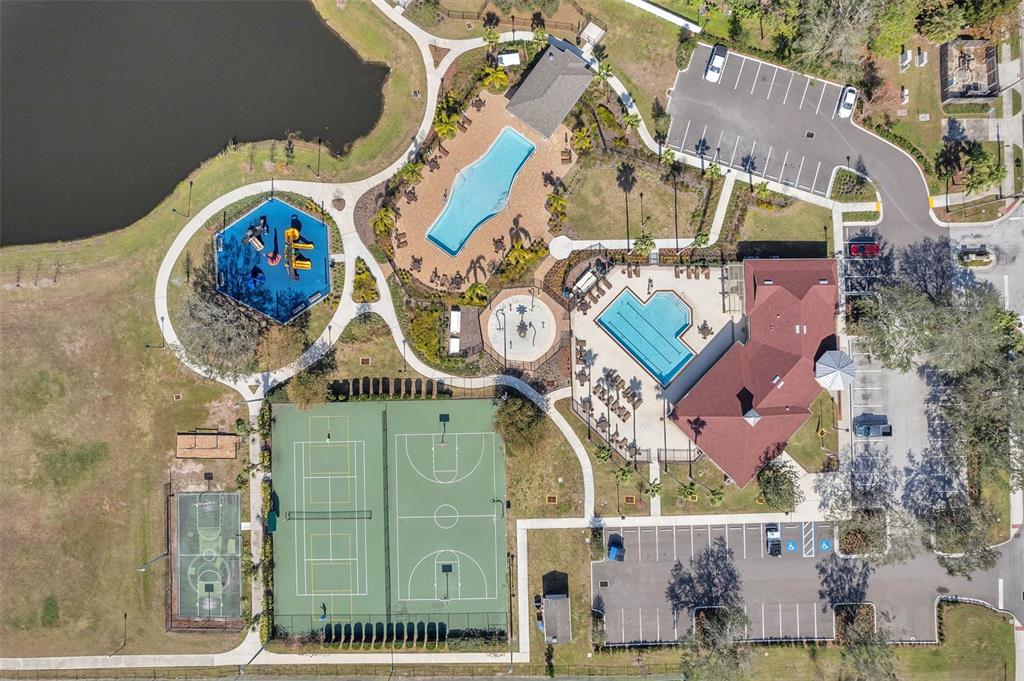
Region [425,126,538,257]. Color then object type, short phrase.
blue swimming pool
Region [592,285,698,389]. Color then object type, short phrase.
blue swimming pool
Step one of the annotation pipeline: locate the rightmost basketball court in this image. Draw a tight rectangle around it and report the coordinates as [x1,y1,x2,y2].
[386,399,507,636]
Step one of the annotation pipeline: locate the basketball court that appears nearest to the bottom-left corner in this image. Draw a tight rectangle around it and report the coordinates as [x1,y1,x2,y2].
[178,493,241,616]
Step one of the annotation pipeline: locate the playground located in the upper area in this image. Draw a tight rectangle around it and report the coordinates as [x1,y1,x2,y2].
[215,197,330,324]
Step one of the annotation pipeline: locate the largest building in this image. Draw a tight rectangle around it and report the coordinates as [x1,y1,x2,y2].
[668,259,837,489]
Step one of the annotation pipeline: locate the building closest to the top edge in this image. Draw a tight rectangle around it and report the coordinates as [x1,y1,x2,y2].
[506,45,594,140]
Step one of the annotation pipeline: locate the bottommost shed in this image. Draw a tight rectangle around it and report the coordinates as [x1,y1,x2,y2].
[544,592,571,643]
